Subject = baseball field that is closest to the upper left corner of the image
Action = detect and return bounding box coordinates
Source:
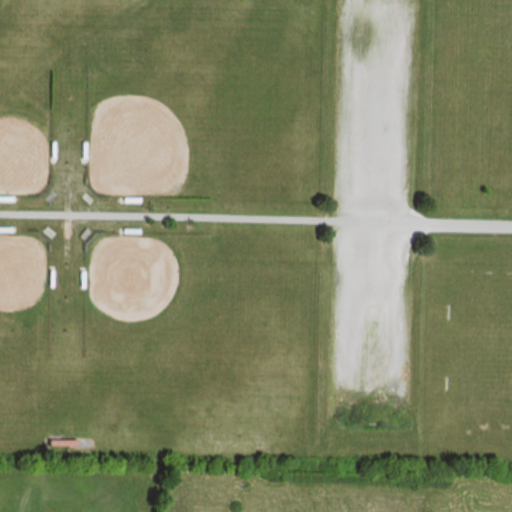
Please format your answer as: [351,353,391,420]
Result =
[0,76,52,198]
